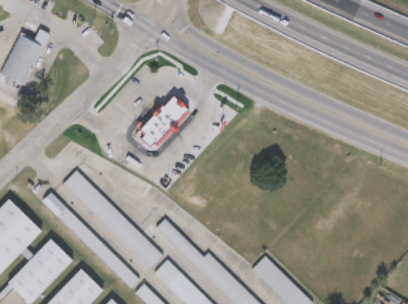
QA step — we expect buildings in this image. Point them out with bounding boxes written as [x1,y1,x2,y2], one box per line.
[135,282,168,304]
[46,268,104,304]
[156,258,216,304]
[254,256,313,304]
[65,170,164,268]
[136,97,188,144]
[46,196,141,288]
[7,238,74,304]
[0,199,43,275]
[156,218,266,304]
[2,28,50,84]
